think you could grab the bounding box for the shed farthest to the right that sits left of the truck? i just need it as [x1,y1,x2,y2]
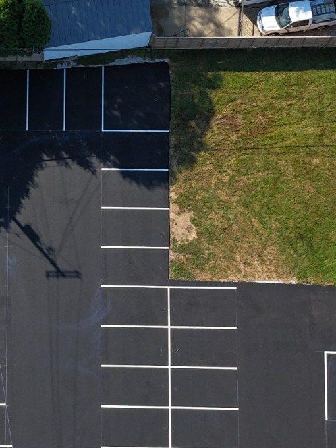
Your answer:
[36,0,153,60]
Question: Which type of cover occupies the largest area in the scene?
paved ground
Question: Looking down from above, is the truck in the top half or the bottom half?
top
